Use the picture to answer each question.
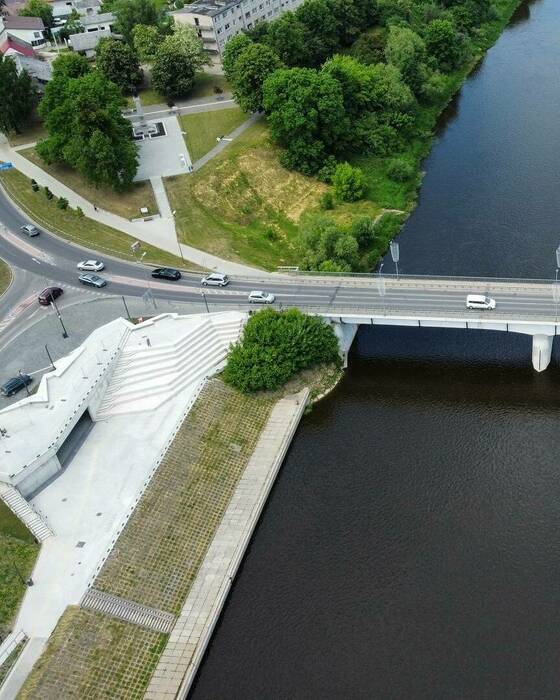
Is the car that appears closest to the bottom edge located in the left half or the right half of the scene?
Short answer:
left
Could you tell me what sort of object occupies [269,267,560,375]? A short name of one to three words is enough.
bridge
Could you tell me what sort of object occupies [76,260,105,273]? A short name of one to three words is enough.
vehicle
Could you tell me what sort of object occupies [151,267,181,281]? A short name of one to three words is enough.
vehicle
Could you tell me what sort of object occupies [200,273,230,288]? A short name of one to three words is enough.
car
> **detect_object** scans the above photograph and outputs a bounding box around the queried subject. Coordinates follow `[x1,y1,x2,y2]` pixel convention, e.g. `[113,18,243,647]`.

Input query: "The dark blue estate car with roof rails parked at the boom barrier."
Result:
[0,375,34,395]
